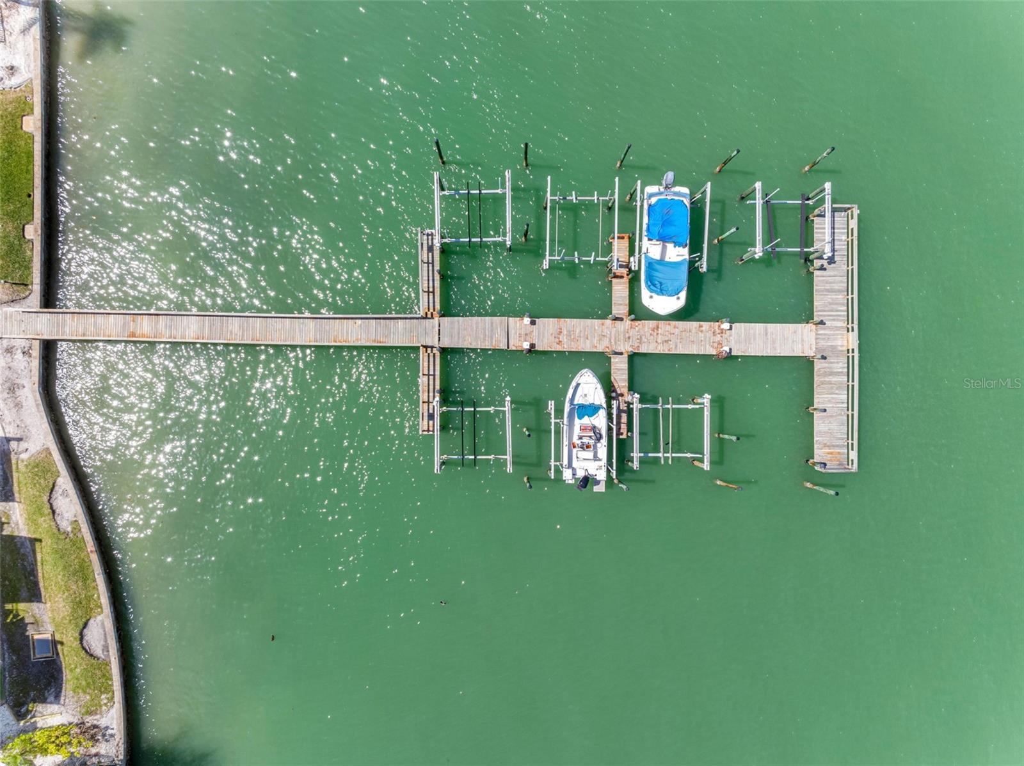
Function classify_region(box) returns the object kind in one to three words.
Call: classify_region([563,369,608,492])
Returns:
boat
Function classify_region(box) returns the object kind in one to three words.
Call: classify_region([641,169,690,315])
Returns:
boat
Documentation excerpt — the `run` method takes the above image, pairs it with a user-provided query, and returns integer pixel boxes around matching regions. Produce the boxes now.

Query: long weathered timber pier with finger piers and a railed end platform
[0,205,858,472]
